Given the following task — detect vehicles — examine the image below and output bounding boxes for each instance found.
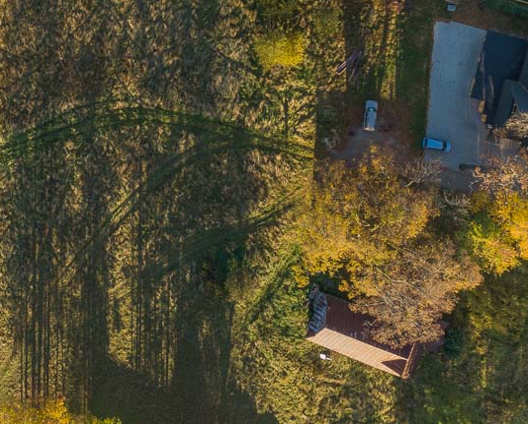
[364,101,377,131]
[421,136,448,150]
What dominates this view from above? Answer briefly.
grass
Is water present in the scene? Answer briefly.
No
